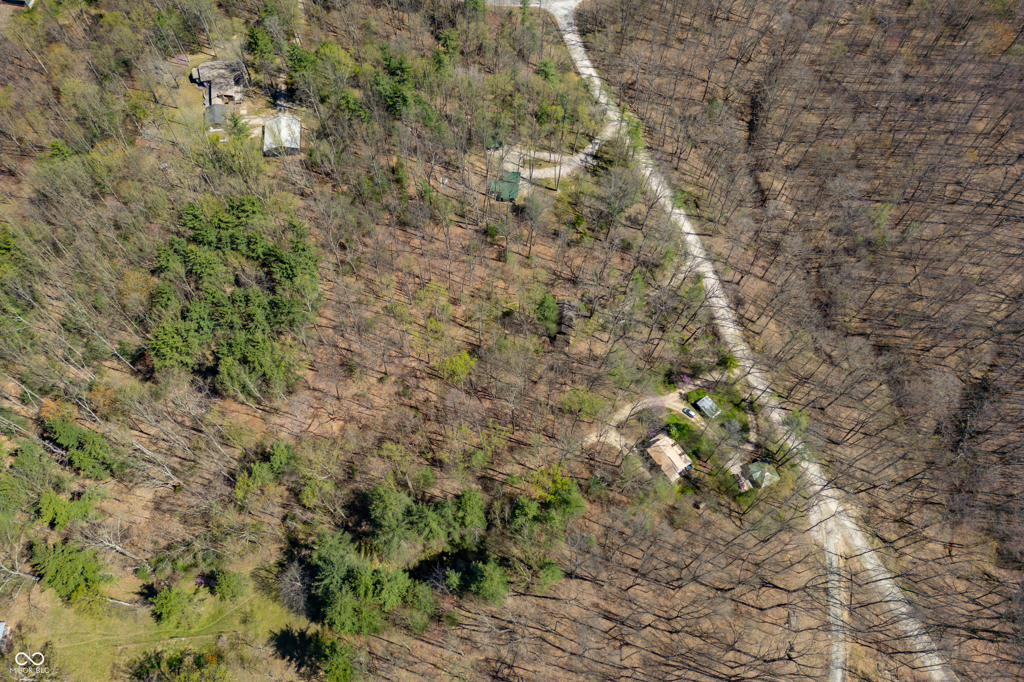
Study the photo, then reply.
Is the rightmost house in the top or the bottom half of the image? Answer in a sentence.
The bottom half of the photo is where the rightmost house is.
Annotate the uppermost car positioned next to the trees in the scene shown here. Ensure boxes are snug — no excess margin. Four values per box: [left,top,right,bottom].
[681,406,699,419]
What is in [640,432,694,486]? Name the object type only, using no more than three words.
house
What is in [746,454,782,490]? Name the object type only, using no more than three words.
house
